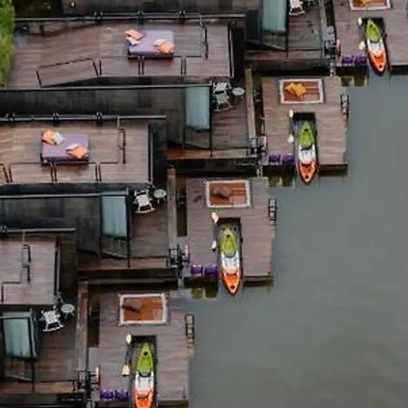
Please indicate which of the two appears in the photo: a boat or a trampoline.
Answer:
boat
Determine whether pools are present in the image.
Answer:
No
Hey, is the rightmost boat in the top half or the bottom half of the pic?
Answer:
top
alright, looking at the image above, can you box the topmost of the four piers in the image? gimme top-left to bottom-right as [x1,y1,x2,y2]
[328,0,408,76]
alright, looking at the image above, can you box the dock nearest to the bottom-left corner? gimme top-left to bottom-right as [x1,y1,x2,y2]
[85,290,187,408]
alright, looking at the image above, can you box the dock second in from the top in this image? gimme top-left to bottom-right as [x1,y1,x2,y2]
[255,75,348,175]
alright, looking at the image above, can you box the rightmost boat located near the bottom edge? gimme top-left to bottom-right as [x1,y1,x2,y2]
[131,340,155,408]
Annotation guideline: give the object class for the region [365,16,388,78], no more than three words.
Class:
boat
